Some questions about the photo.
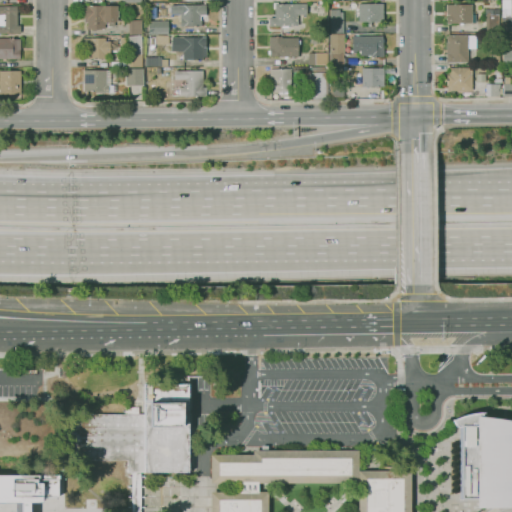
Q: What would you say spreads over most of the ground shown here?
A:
paved ground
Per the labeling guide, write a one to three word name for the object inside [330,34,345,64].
house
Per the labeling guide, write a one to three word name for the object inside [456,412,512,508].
building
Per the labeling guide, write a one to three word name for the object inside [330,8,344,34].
house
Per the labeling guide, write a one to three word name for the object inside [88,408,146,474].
building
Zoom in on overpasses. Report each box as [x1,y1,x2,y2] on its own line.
[395,125,444,300]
